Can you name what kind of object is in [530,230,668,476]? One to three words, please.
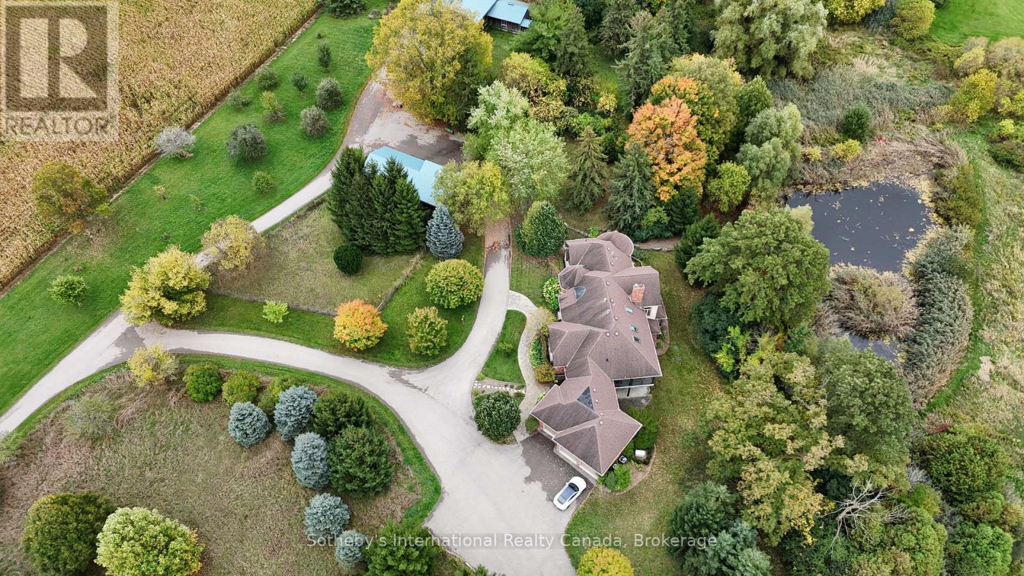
house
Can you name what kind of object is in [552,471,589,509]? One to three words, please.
car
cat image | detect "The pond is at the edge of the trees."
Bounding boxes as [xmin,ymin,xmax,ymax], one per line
[783,179,934,367]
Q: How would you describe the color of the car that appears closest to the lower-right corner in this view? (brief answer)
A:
white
